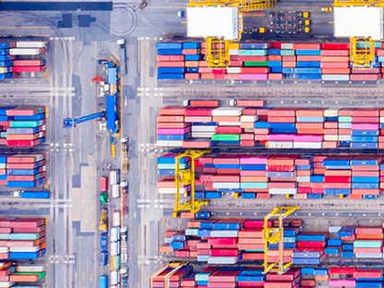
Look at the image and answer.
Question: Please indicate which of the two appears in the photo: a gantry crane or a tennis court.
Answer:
gantry crane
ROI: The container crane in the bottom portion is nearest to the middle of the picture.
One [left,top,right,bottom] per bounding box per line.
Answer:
[174,150,212,214]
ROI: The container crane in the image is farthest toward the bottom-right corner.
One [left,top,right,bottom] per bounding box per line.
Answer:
[262,207,298,275]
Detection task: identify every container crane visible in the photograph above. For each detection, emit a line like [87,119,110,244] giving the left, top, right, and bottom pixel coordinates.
[333,0,384,69]
[174,150,212,214]
[146,262,188,288]
[188,0,289,69]
[262,207,298,275]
